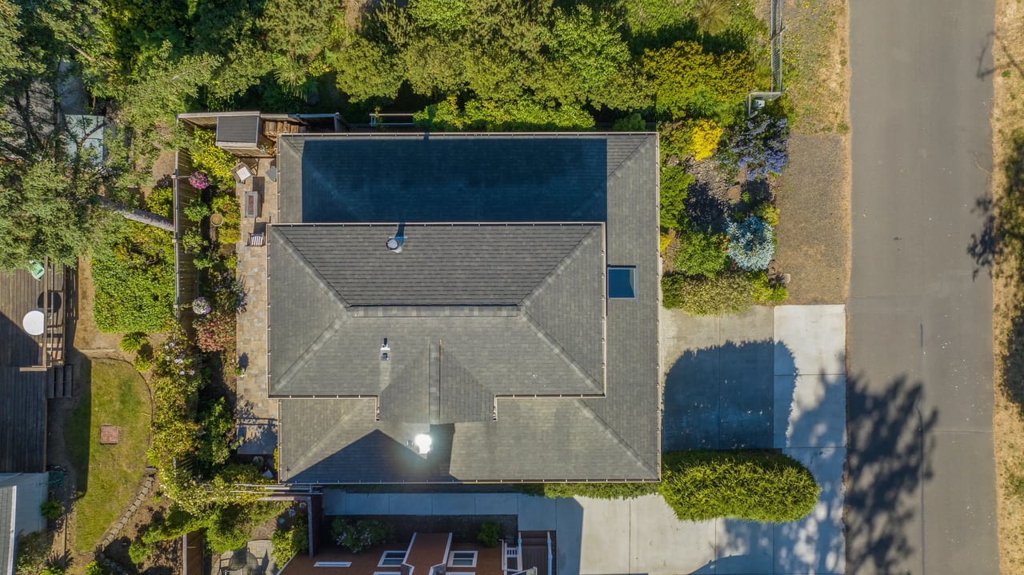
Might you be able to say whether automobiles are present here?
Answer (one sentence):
No, no automobile is visible in the scene.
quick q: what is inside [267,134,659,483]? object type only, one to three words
house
